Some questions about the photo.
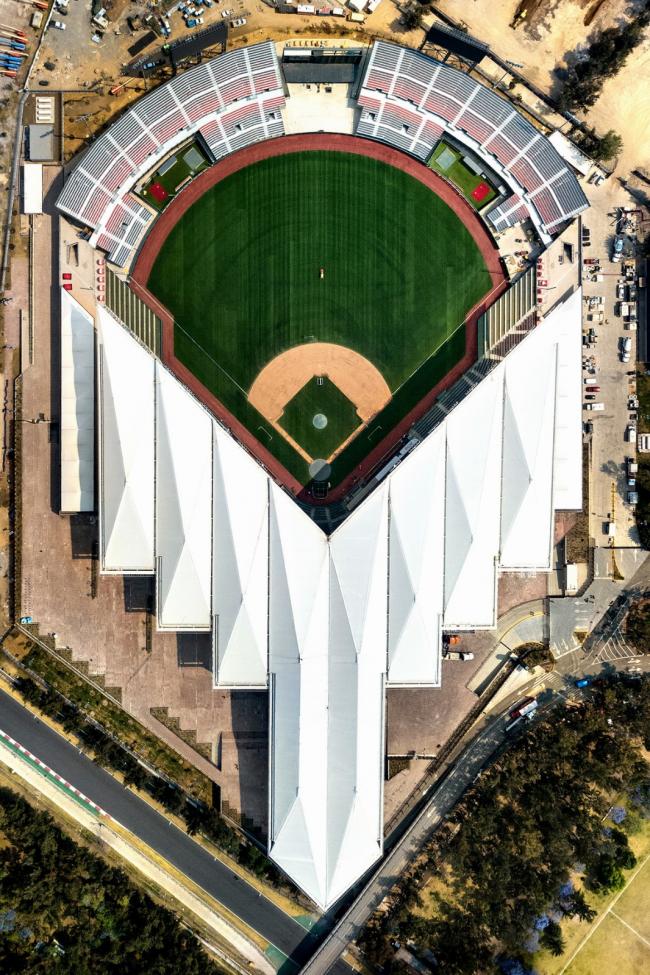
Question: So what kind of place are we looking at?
sports ground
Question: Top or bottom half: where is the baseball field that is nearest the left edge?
top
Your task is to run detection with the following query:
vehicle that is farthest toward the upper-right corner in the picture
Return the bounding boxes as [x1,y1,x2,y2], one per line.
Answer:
[515,7,529,28]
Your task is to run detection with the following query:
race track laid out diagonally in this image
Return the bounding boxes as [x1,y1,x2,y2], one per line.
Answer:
[0,689,364,975]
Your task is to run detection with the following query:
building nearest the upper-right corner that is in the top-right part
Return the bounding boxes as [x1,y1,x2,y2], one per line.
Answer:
[545,131,592,178]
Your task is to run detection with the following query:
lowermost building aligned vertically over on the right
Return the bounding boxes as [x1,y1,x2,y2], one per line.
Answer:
[563,563,577,593]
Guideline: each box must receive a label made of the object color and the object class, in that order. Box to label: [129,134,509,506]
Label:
green baseball field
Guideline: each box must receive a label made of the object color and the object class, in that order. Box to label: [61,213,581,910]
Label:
white stadium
